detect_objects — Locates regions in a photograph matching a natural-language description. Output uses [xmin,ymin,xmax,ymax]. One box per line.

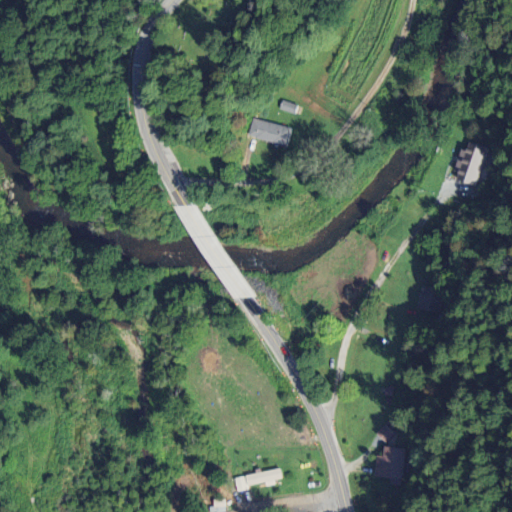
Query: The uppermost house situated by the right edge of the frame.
[453,143,488,188]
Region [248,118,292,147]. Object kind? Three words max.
house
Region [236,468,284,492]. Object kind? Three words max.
house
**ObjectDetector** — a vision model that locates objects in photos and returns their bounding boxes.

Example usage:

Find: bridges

[175,204,256,300]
